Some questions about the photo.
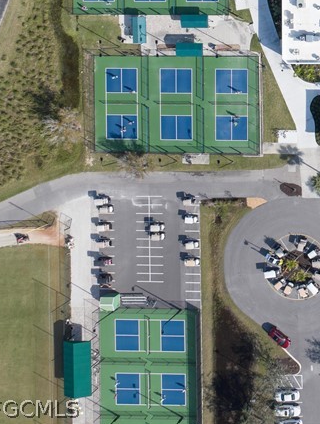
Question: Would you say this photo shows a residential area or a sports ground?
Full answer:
This image shows a sports ground.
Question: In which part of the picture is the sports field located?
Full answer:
You can find the sports field in the bottom left area of the picture.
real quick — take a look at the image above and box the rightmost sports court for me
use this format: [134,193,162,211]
[204,56,259,154]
